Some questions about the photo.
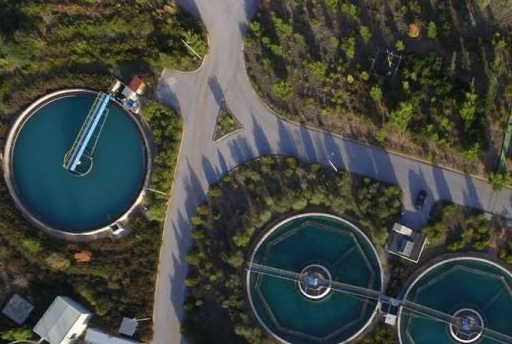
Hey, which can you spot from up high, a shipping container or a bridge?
bridge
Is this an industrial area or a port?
industrial area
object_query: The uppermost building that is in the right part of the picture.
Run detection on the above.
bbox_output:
[385,223,427,263]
